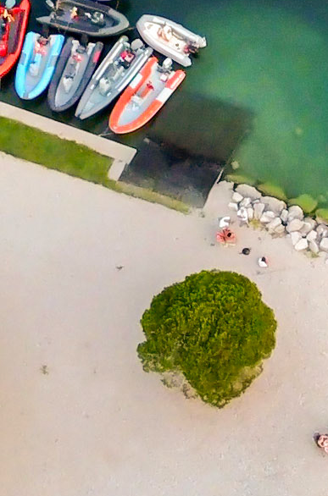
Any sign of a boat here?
Yes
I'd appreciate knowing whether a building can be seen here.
No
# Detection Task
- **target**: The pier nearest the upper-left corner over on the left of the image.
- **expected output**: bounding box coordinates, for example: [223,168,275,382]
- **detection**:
[0,102,138,180]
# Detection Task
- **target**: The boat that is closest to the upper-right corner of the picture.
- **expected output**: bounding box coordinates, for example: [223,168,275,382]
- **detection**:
[135,15,207,64]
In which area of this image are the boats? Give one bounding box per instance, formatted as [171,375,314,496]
[19,30,64,100]
[40,0,130,33]
[48,38,103,110]
[0,0,29,77]
[75,37,152,119]
[109,58,183,132]
[135,15,207,64]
